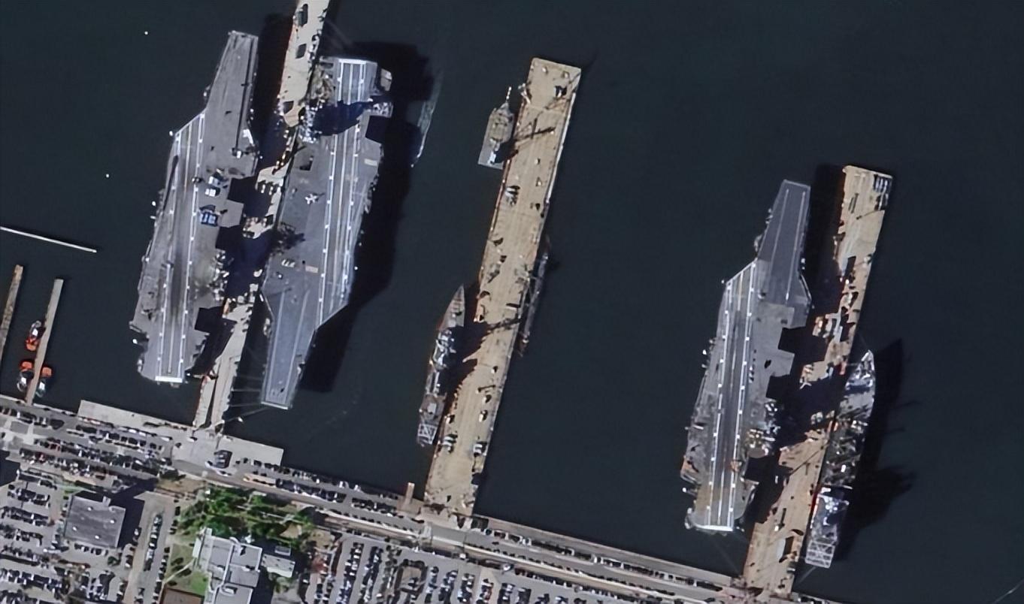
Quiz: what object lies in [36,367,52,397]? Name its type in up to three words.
boat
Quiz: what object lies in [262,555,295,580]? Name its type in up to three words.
building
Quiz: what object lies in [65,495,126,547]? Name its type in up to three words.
building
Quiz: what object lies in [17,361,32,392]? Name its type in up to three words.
boat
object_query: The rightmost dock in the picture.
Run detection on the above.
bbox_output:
[741,166,893,599]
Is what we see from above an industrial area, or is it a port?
port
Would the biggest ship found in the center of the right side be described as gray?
Yes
